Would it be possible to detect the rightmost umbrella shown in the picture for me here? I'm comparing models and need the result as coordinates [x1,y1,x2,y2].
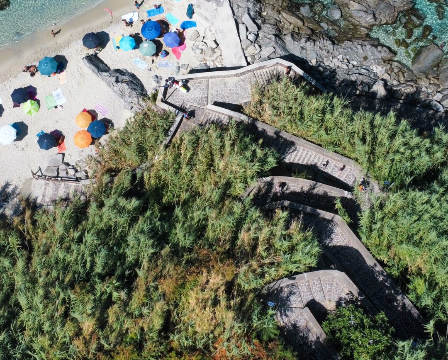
[164,33,179,48]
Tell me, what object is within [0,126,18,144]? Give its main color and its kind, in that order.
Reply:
white umbrella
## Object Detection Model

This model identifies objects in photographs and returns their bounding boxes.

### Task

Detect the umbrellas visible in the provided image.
[0,126,18,144]
[118,36,135,52]
[140,40,156,56]
[9,88,28,105]
[38,132,55,149]
[22,100,38,115]
[38,58,58,76]
[164,33,179,48]
[141,21,161,39]
[83,32,100,49]
[88,120,106,137]
[74,131,91,148]
[76,111,92,127]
